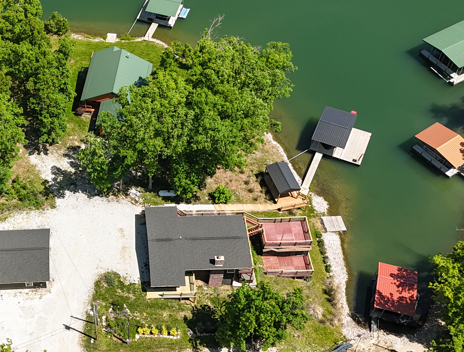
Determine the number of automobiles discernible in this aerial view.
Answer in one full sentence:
No automobiles are visible.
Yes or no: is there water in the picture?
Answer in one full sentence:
Yes, water shows up in the scene.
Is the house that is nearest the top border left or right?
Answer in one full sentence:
It is on the left.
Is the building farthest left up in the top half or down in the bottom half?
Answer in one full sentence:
Seen from above, the building farthest left lies in the bottom half of the view.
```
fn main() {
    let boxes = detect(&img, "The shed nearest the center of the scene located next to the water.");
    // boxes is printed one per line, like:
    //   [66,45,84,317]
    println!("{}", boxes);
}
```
[263,163,300,201]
